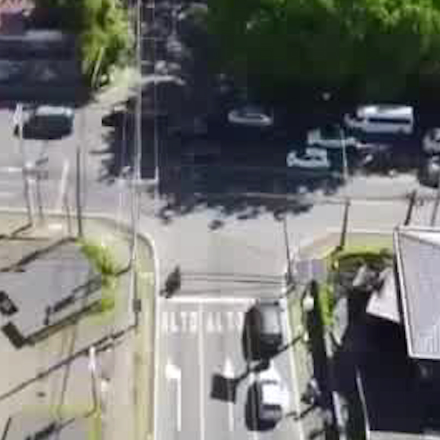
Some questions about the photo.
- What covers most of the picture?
paved ground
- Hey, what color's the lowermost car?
white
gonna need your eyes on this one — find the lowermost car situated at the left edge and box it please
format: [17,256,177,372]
[18,106,78,137]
